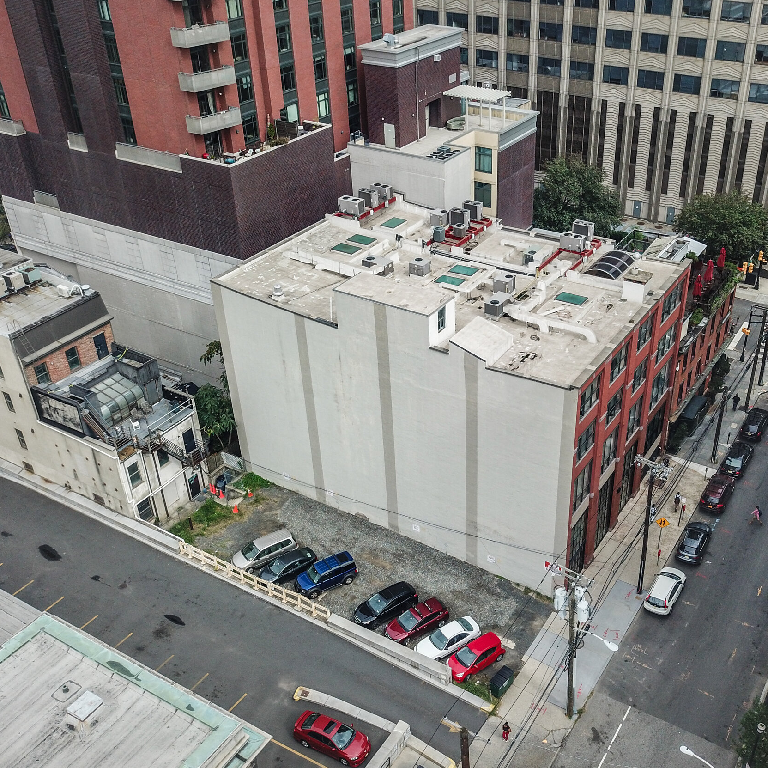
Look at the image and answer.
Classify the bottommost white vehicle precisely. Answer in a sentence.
I'd identify the bottommost white vehicle as a car.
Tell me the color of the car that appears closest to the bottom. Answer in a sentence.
The color of the car that appears closest to the bottom is red.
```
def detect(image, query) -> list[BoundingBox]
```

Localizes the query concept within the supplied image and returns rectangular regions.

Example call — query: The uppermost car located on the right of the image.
[740,409,768,442]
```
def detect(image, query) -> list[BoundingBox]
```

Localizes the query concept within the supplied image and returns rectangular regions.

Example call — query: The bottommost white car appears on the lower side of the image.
[415,612,484,662]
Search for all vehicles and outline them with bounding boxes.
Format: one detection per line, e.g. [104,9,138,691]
[643,563,690,615]
[291,706,373,765]
[255,537,320,583]
[699,474,739,513]
[415,612,484,662]
[294,547,359,599]
[740,409,768,442]
[673,518,715,564]
[350,579,417,628]
[722,441,757,477]
[385,594,453,646]
[445,632,509,682]
[224,520,297,574]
